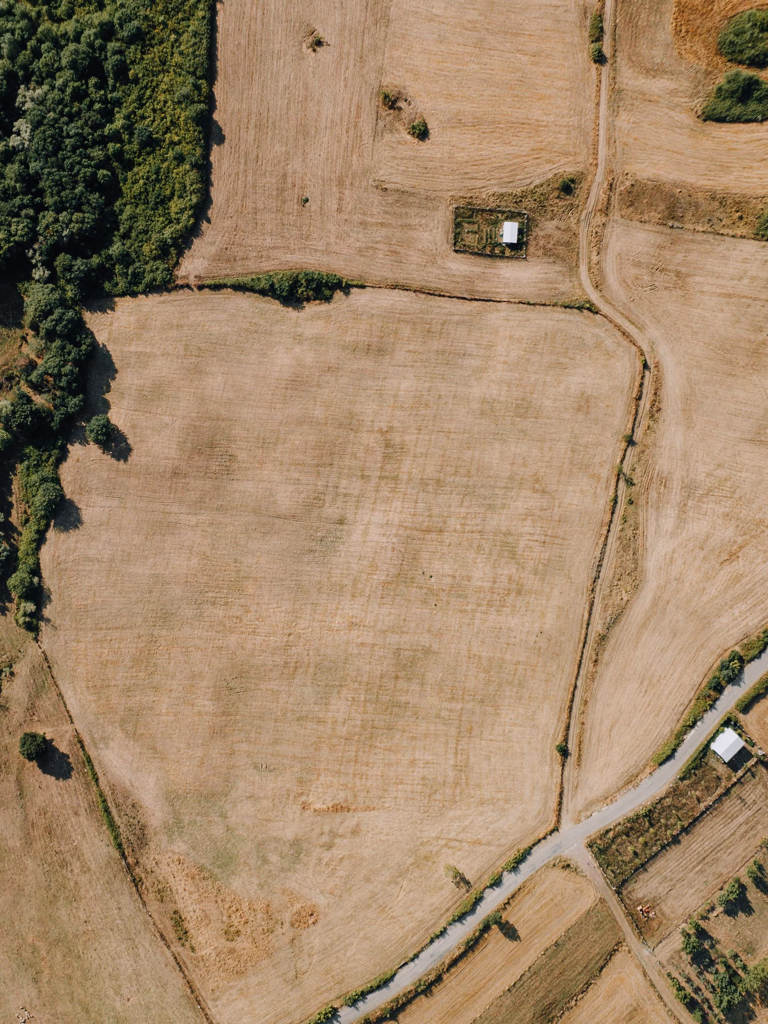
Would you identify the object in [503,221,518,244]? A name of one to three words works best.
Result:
house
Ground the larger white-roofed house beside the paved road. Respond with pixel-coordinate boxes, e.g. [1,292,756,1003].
[709,726,745,761]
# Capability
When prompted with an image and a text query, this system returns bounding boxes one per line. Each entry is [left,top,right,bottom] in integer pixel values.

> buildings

[503,221,518,244]
[709,726,745,761]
